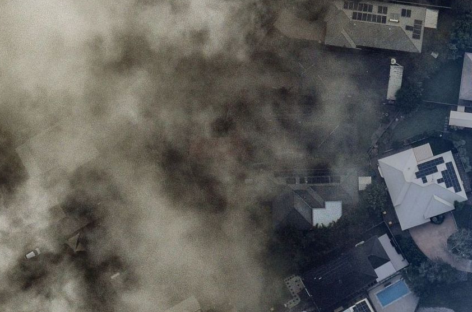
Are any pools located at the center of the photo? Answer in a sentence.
No, the scene shows no pool at the center of the photo.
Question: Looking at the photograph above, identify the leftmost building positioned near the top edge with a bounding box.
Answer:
[325,0,426,53]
